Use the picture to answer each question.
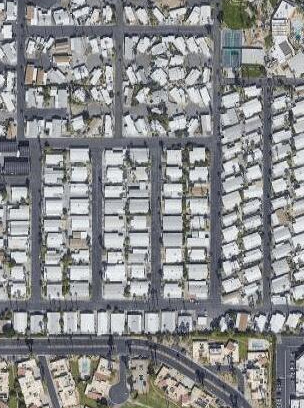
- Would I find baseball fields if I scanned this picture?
No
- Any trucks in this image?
No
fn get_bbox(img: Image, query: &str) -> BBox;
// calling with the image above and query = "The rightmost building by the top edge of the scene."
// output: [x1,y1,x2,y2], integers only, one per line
[271,1,304,77]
